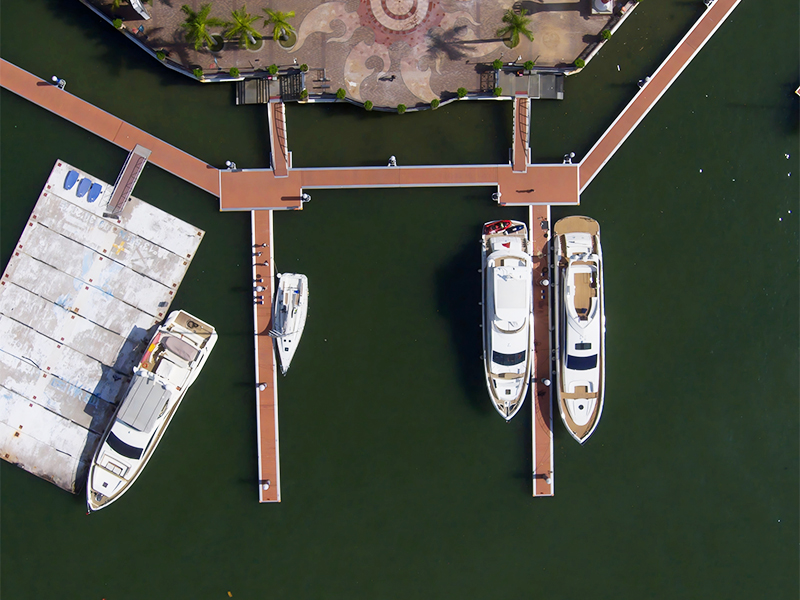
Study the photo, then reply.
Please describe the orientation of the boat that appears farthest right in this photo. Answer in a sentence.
The boat that appears farthest right is oriented vertically.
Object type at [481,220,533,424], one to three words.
boat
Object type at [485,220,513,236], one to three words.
boat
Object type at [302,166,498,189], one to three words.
pier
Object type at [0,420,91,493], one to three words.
pier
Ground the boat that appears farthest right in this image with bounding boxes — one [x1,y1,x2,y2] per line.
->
[553,216,606,444]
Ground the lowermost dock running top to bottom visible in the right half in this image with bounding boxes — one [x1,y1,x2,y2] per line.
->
[529,205,555,497]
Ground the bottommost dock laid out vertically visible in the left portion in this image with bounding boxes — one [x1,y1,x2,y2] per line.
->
[252,211,281,503]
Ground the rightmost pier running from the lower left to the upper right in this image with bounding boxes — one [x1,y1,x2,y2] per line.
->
[579,0,741,195]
